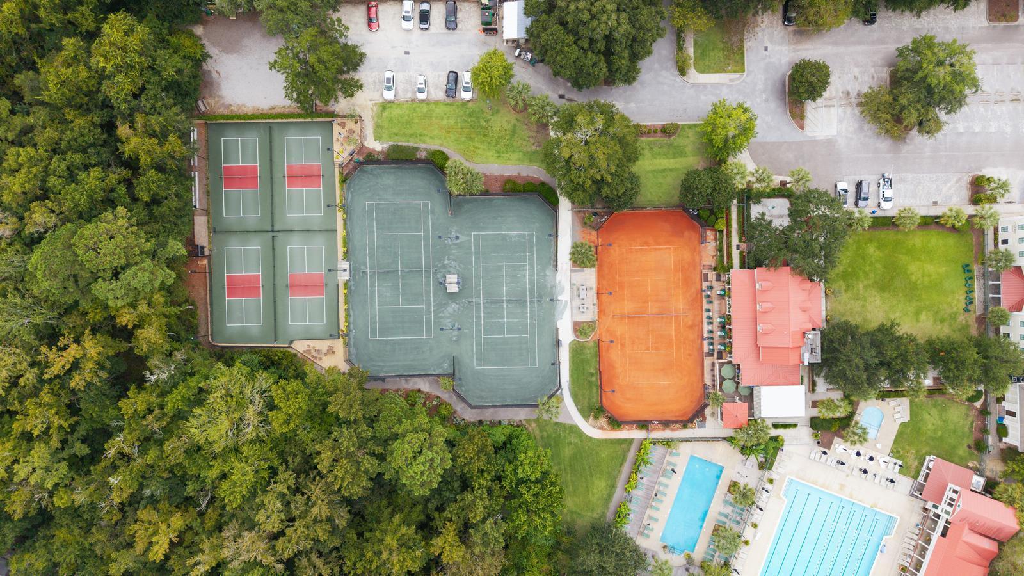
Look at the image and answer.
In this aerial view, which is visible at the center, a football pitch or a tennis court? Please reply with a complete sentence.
Visible at the center is a tennis court.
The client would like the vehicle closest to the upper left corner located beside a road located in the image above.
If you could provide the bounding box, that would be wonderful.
[367,2,380,32]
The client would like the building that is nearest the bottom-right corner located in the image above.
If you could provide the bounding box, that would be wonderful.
[895,458,1020,576]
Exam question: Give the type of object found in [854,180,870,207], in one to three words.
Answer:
car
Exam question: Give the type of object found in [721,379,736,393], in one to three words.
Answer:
umbrella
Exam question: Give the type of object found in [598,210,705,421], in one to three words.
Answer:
tennis court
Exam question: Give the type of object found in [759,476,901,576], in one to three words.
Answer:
swimming pool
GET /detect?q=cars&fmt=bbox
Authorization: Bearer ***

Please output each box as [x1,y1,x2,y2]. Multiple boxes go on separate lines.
[367,2,380,32]
[854,180,870,207]
[863,3,878,26]
[401,1,415,30]
[782,0,794,25]
[382,71,396,100]
[460,71,473,100]
[834,181,849,202]
[445,1,458,31]
[415,75,428,100]
[445,71,458,98]
[418,2,431,30]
